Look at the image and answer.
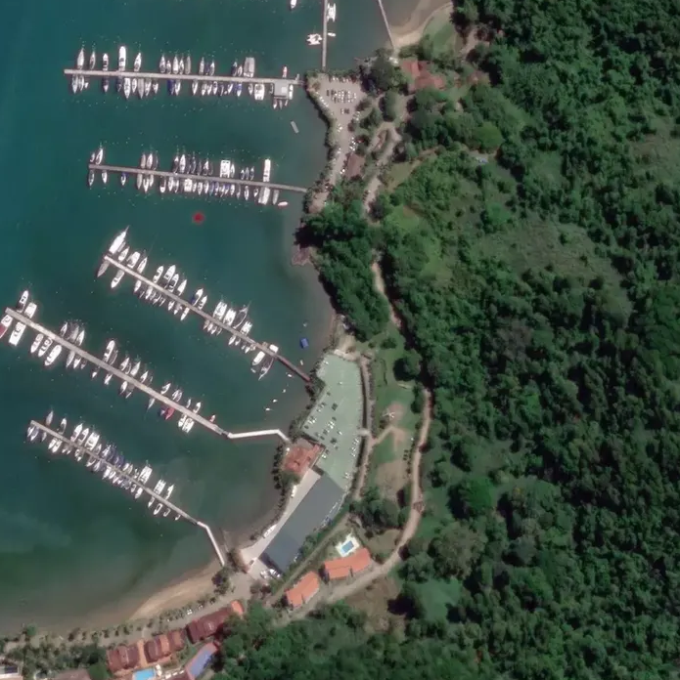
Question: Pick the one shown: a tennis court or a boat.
boat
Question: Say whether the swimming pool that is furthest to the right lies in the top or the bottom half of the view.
bottom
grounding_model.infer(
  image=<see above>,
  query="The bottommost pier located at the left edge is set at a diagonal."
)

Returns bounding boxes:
[32,421,198,524]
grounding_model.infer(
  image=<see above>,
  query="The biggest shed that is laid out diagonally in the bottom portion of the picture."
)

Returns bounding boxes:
[263,475,345,572]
